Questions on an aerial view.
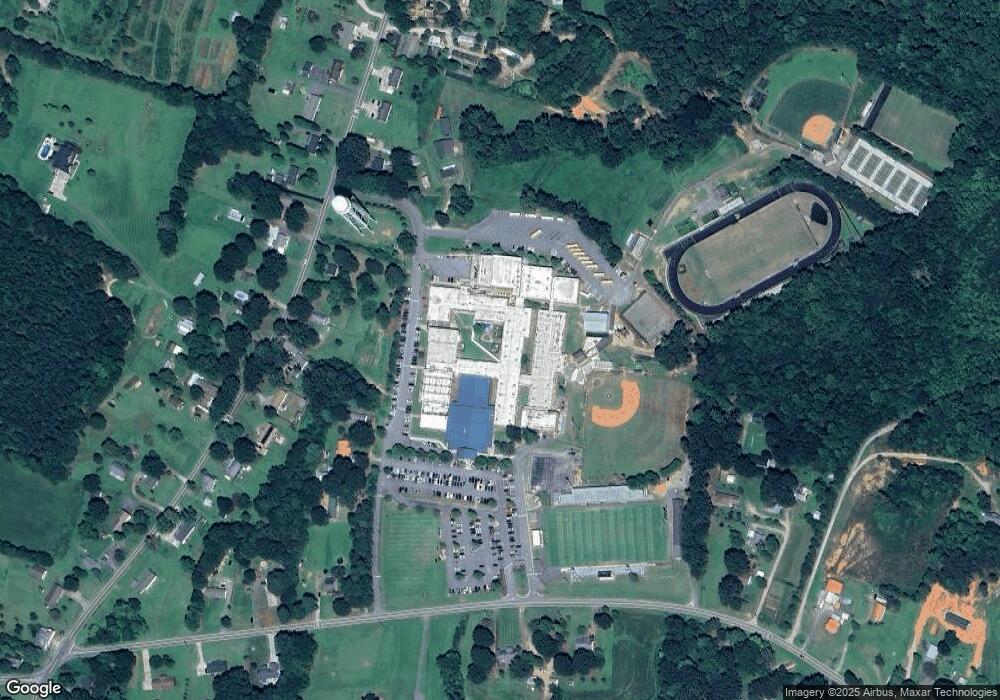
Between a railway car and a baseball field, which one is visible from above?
baseball field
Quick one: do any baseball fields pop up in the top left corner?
No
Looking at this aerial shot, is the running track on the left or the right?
right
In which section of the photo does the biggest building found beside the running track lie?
center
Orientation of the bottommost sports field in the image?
from side to side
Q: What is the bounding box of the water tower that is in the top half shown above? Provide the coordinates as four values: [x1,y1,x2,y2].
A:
[333,196,377,236]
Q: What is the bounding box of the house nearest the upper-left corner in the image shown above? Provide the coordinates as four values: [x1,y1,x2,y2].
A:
[55,143,81,172]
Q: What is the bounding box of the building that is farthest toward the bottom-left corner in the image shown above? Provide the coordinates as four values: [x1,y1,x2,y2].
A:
[35,626,58,649]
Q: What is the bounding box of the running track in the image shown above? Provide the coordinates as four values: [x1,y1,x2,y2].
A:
[663,182,842,316]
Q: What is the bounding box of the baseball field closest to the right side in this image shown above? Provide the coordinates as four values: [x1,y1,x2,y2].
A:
[757,51,857,148]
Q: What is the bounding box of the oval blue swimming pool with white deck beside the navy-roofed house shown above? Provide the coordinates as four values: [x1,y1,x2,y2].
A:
[37,137,56,161]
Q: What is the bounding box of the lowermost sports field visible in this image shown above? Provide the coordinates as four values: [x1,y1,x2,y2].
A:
[544,504,669,567]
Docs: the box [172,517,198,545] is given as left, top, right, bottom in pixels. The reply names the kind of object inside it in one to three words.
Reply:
house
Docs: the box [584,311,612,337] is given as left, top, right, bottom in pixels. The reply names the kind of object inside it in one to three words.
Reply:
building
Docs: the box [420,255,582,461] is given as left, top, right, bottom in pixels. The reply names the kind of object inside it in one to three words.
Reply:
building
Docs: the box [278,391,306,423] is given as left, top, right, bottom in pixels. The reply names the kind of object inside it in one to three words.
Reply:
house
